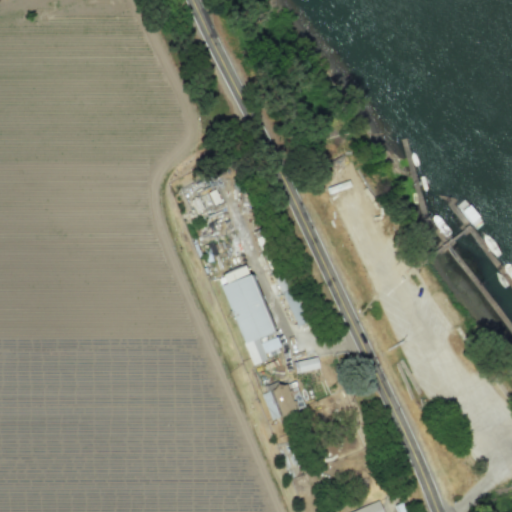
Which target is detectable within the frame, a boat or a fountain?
boat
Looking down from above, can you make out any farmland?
Yes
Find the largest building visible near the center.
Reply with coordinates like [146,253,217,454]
[223,274,276,343]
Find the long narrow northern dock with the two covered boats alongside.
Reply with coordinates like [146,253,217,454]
[402,138,428,216]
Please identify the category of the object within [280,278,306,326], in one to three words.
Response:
shed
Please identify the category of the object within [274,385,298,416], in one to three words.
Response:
house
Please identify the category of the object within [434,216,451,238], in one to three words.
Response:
boat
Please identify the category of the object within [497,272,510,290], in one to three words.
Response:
boat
